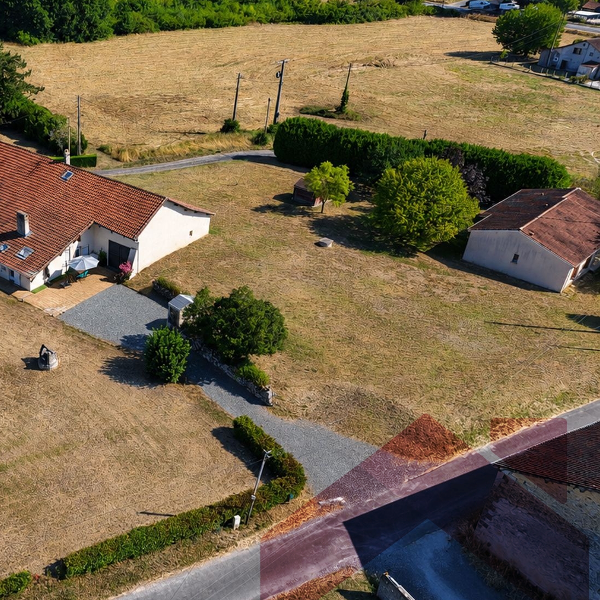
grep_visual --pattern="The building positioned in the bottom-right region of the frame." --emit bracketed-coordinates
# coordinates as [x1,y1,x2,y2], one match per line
[473,423,600,600]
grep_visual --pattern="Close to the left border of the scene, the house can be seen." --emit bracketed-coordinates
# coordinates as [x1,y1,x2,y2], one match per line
[0,138,215,290]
